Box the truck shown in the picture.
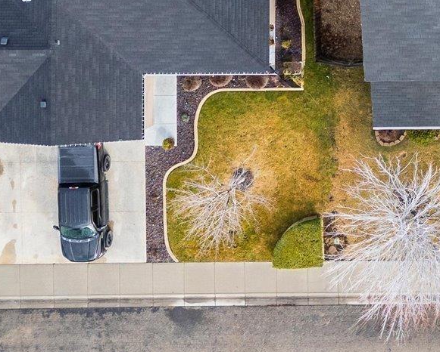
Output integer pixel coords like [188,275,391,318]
[50,144,110,269]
